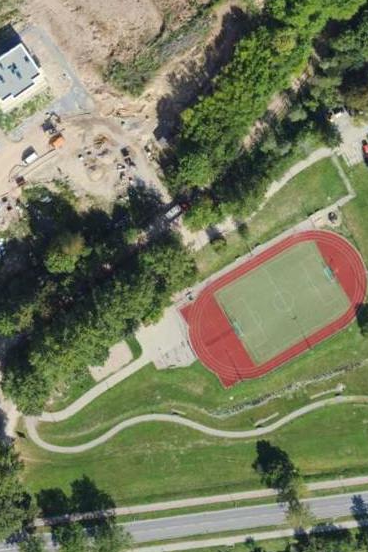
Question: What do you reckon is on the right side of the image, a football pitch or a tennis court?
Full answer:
Visible on the right side of the image is a football pitch.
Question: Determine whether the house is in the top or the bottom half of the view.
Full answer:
You can find the house in the top half.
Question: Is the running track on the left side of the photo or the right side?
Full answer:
The running track appears in the right half of the scene.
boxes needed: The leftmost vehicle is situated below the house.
[22,150,39,164]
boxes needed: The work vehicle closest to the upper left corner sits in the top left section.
[41,113,62,133]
